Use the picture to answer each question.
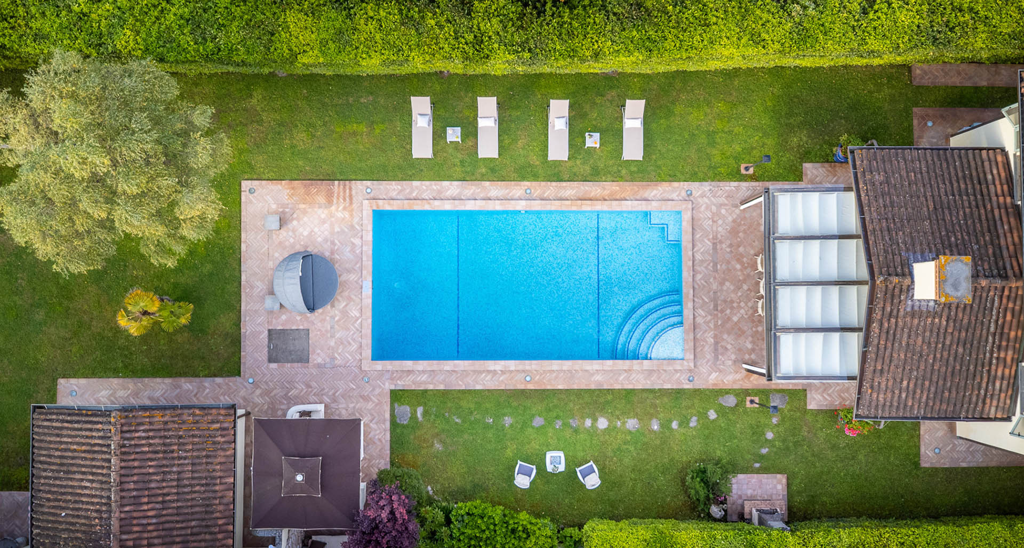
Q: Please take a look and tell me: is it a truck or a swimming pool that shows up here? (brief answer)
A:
swimming pool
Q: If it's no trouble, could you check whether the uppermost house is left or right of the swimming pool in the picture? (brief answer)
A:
on its right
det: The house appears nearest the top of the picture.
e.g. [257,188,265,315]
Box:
[831,72,1024,460]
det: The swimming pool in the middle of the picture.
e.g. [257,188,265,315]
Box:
[362,200,694,370]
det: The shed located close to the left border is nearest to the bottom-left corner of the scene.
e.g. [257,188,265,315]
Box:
[28,402,251,548]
